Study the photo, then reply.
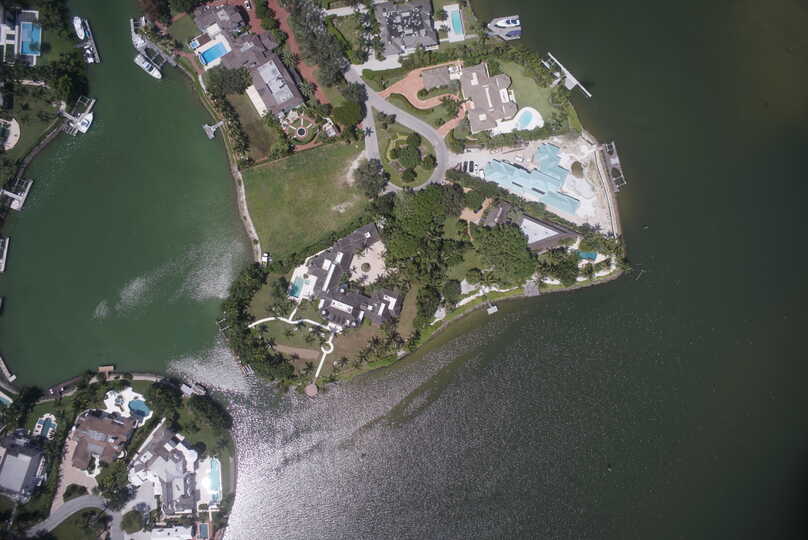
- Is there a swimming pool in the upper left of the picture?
Yes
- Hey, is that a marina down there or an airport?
marina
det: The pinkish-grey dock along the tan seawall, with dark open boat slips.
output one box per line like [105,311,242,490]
[600,141,627,194]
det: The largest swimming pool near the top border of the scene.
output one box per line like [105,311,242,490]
[21,22,41,55]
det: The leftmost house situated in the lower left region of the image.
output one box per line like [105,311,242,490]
[0,429,45,497]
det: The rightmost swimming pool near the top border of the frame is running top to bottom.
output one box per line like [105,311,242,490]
[450,9,465,35]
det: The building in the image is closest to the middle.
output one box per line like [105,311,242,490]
[307,223,402,327]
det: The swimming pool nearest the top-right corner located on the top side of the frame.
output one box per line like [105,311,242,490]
[518,110,533,129]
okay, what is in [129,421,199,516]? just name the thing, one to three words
house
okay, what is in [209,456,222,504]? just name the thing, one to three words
swimming pool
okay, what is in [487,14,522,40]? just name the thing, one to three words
pier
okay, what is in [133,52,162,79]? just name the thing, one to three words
boat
